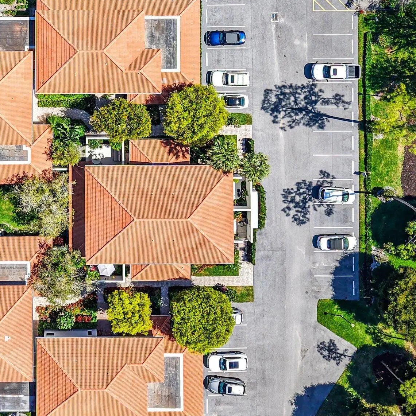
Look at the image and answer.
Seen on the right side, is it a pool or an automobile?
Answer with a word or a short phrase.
automobile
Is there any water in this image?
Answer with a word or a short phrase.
No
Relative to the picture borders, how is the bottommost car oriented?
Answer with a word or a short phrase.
from side to side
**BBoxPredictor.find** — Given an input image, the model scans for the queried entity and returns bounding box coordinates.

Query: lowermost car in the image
[205,375,247,397]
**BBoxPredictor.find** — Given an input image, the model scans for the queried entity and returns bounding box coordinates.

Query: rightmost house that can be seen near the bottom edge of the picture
[35,314,205,416]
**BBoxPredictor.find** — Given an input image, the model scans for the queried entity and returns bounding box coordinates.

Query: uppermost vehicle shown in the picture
[204,28,245,47]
